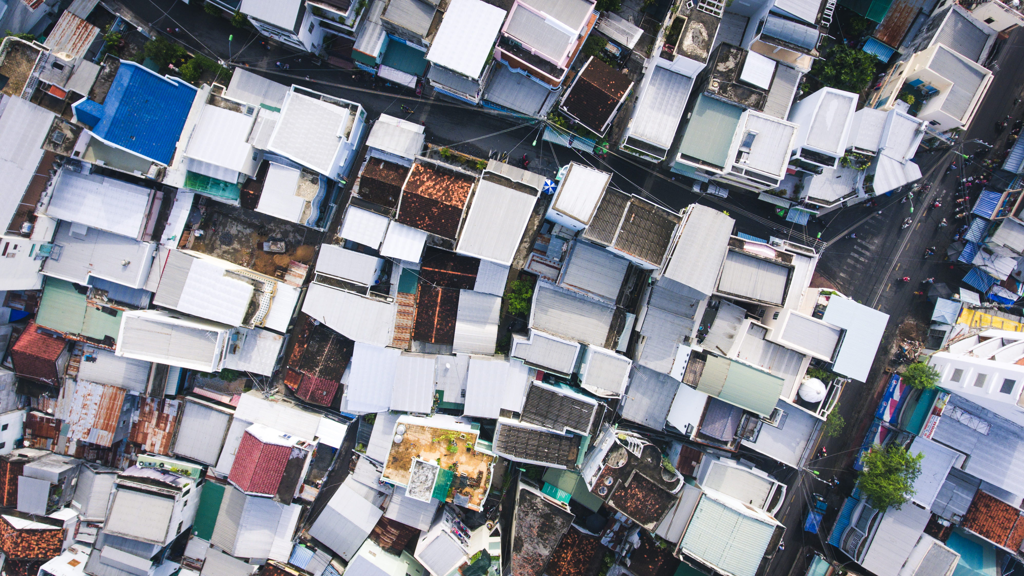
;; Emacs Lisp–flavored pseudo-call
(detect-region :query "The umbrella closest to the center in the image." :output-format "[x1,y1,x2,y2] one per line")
[542,180,557,195]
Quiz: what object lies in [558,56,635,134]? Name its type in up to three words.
house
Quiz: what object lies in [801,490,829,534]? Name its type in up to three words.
truck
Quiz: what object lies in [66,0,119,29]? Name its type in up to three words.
house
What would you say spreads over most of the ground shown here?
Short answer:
buildings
